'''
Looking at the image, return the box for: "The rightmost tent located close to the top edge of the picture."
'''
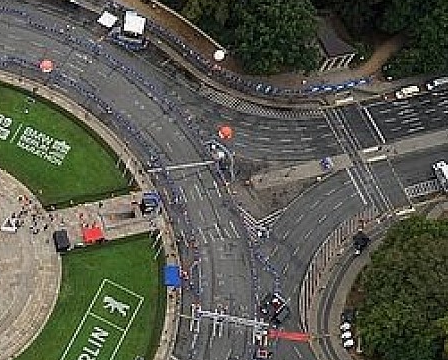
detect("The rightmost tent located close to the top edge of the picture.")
[122,14,145,35]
